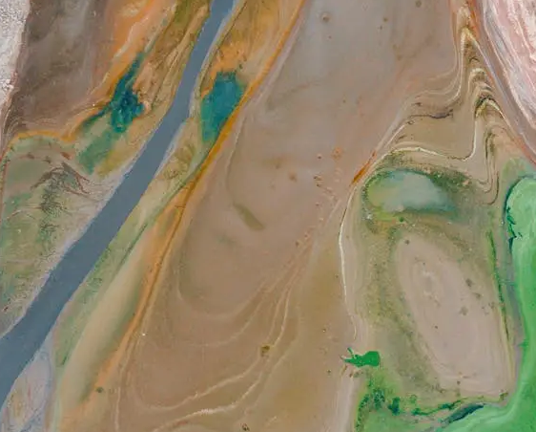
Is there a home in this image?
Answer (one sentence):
No, the frame has no home in it.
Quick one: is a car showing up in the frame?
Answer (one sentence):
No, I can't see a single car in this photo.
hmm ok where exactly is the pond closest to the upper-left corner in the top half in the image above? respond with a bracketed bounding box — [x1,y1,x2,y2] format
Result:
[80,51,146,134]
